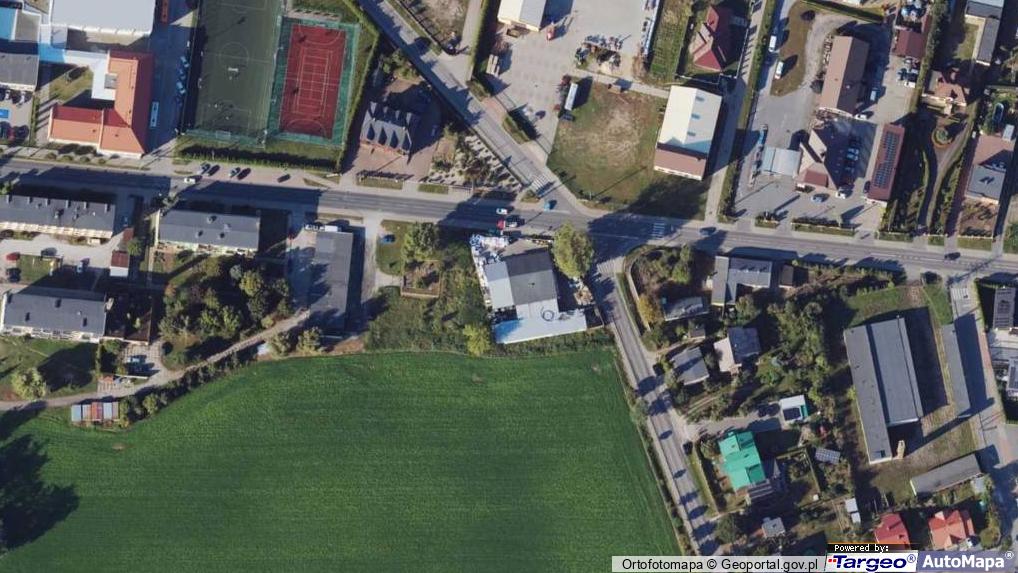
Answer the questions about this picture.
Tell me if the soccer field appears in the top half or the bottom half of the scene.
top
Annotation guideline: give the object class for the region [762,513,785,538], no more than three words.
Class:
shed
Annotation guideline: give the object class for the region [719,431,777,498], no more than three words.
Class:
building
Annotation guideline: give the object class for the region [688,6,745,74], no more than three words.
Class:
house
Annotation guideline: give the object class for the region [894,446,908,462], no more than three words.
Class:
chimney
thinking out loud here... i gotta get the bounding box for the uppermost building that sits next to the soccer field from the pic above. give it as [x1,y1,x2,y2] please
[39,0,159,50]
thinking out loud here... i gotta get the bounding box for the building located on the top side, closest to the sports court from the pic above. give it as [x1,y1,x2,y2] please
[361,100,413,157]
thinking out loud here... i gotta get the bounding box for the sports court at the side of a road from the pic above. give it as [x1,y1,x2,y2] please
[268,16,360,145]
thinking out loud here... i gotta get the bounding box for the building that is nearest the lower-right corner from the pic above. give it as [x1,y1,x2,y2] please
[928,510,975,557]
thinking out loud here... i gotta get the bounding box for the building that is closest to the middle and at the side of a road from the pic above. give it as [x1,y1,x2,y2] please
[484,247,587,346]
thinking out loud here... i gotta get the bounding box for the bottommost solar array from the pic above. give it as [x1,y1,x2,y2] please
[813,448,839,464]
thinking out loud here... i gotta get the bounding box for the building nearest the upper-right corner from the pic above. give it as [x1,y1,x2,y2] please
[963,0,1003,68]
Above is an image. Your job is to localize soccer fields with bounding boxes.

[184,0,281,145]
